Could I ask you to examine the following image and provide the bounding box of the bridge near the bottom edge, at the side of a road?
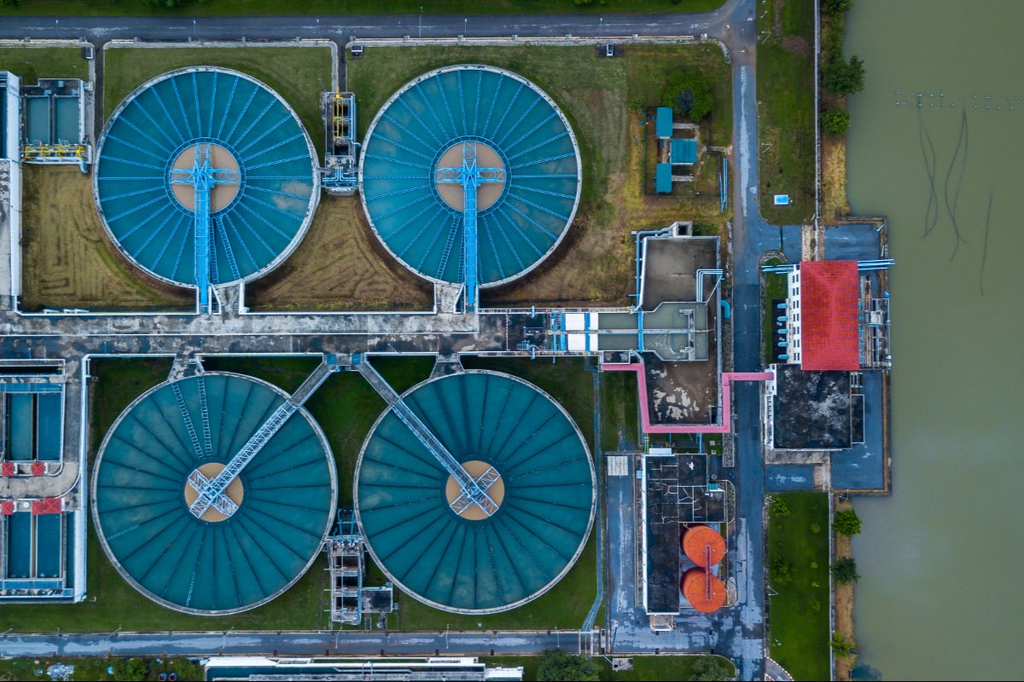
[578,628,606,655]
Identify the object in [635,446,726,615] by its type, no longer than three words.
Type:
building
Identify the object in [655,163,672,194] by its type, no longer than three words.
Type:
shed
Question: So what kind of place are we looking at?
industrial area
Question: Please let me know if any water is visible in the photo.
Yes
